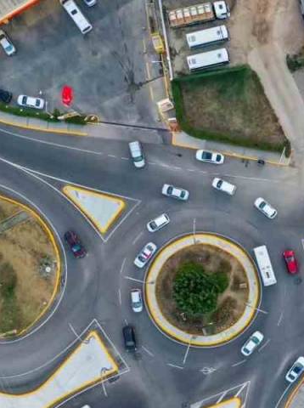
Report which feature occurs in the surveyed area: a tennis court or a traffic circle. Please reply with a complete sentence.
Of the two, only a traffic circle appears.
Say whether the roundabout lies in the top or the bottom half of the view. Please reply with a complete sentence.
You can find the roundabout in the bottom half.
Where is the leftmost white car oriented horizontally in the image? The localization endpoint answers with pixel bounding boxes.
[17,96,46,109]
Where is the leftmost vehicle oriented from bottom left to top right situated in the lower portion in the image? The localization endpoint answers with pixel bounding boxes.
[134,241,157,268]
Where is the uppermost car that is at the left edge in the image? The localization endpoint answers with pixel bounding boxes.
[0,29,18,57]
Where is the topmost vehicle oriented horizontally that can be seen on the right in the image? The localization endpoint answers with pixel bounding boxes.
[168,1,232,29]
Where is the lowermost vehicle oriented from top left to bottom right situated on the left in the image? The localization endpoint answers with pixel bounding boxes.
[63,230,88,260]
